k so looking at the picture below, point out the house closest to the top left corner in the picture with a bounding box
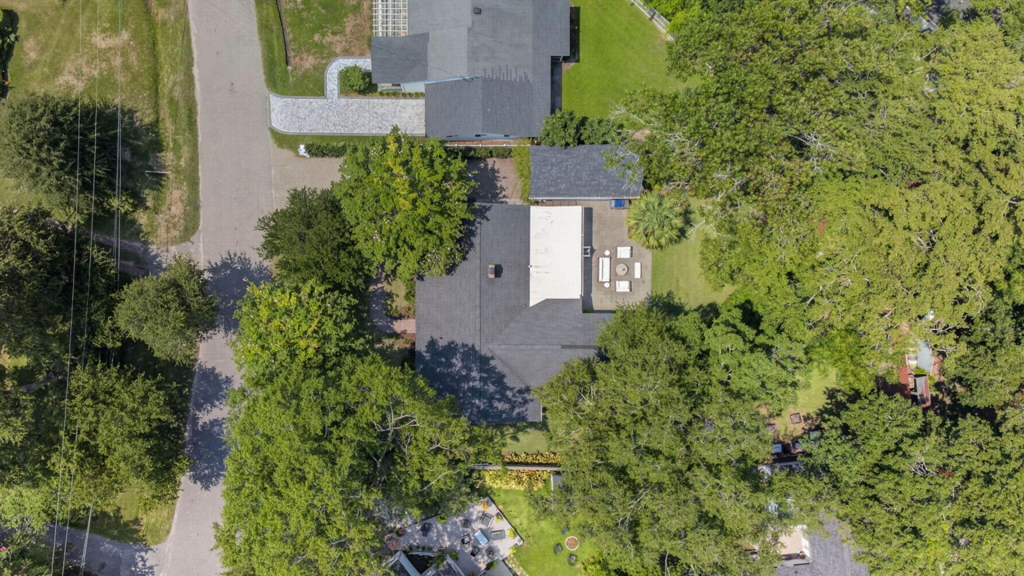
[372,0,570,141]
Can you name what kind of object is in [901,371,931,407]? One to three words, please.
shed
